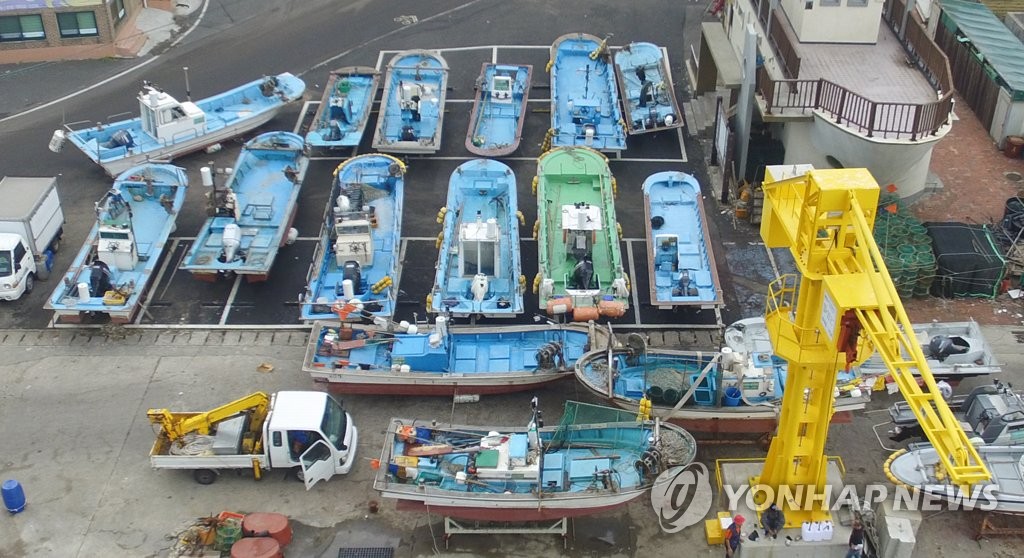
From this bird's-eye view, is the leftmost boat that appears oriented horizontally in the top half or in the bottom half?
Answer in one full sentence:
The leftmost boat that appears oriented horizontally sits in the top half of the picture.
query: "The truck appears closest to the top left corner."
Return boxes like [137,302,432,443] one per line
[0,177,69,302]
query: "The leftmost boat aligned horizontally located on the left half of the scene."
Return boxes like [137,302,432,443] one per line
[69,59,302,174]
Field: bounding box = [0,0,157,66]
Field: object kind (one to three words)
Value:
building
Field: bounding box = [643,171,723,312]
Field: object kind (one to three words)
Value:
boat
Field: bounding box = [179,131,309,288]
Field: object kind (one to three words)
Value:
boat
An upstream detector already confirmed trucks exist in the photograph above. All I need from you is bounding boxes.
[145,385,360,497]
[0,177,69,302]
